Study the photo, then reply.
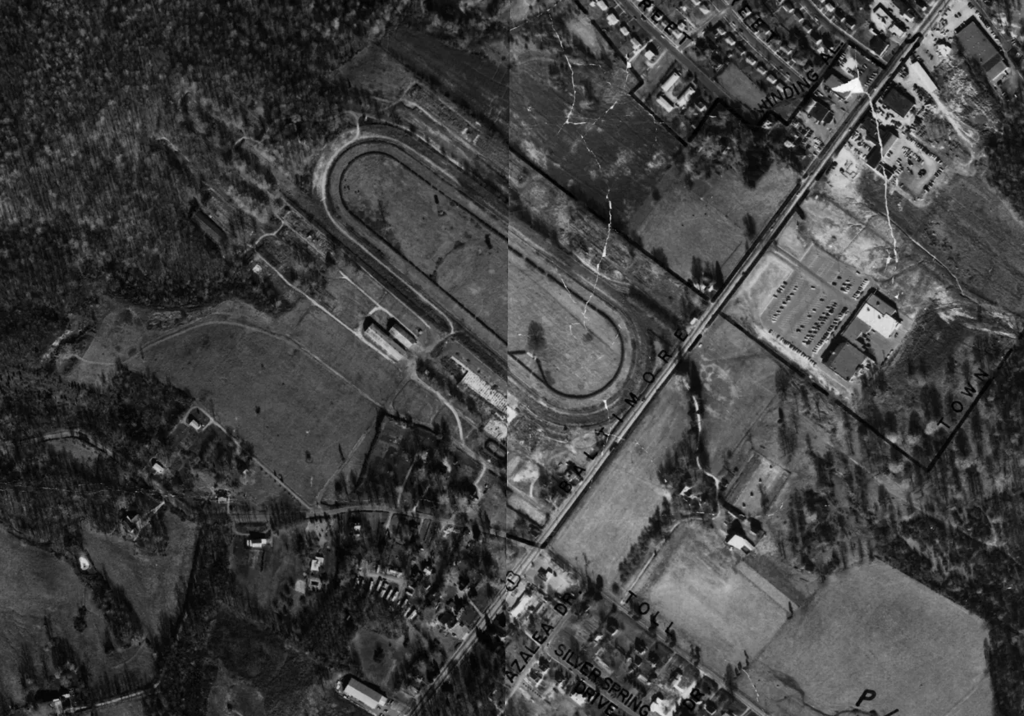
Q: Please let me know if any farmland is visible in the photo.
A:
Yes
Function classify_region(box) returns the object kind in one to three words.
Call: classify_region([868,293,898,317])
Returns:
building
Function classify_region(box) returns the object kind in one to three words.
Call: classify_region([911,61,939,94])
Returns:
shed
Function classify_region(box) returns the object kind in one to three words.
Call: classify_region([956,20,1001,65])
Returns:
building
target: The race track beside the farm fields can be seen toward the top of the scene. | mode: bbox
[313,126,640,427]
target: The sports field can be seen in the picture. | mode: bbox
[719,65,767,110]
